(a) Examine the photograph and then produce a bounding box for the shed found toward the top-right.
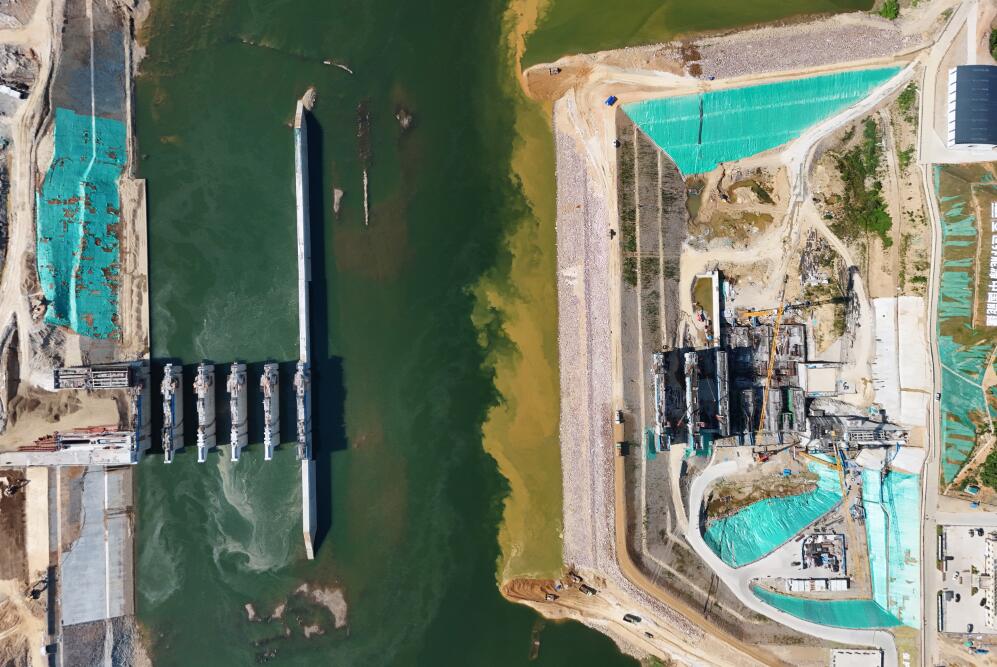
[944,64,997,150]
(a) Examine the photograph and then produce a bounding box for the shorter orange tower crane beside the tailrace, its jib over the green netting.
[796,430,854,504]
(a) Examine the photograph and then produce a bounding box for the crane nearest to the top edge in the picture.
[737,256,799,442]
